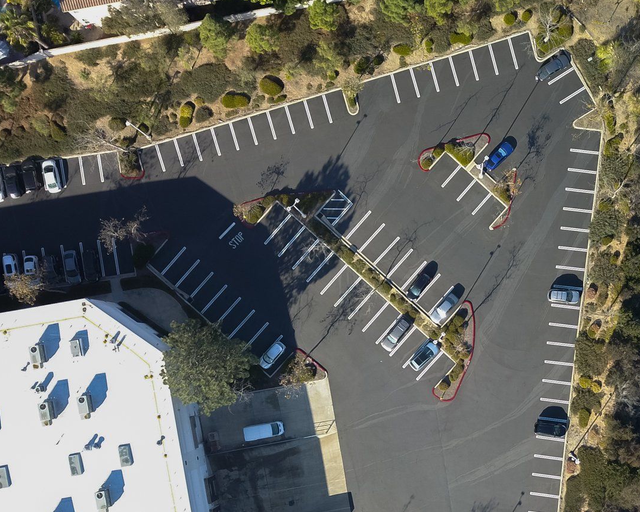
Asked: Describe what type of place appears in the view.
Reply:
parking lot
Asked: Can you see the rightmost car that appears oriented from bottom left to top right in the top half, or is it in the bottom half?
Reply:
top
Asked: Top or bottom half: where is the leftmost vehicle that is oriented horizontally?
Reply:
bottom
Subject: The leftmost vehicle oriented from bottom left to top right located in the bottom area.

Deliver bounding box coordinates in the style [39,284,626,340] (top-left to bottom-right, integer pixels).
[259,337,288,369]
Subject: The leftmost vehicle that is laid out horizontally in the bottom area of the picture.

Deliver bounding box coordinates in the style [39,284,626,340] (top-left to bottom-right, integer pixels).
[241,422,285,442]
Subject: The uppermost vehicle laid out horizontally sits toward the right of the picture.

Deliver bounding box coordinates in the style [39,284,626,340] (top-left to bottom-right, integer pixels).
[546,288,582,305]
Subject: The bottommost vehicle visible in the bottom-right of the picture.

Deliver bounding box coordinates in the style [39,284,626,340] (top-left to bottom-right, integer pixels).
[533,421,569,437]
